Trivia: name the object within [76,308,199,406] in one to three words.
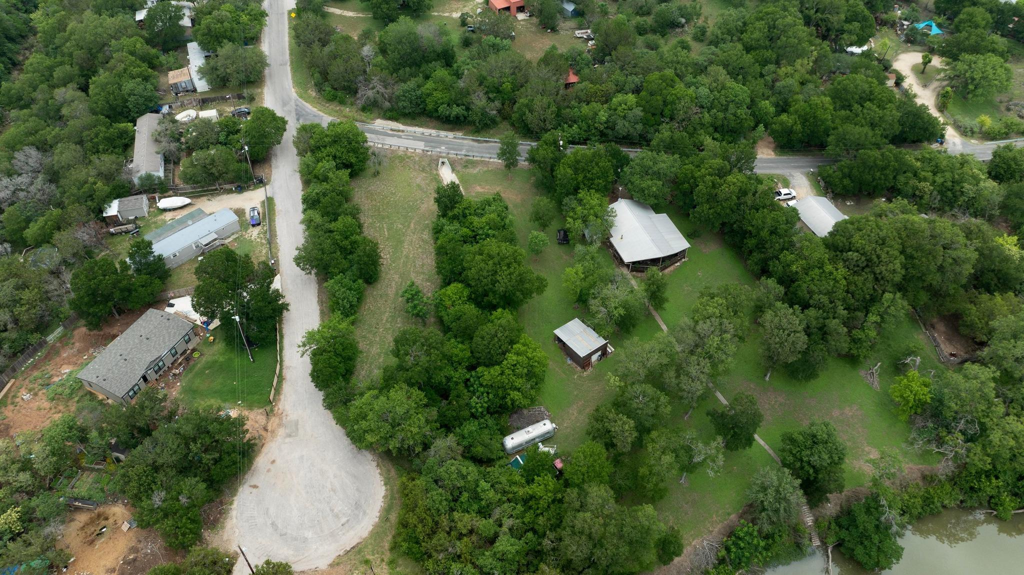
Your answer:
house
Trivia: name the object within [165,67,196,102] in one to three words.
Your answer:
shed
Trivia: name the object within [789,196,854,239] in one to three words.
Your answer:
building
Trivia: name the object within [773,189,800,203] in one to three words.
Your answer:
vehicle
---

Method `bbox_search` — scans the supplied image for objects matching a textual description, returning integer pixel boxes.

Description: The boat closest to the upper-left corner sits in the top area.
[171,108,198,121]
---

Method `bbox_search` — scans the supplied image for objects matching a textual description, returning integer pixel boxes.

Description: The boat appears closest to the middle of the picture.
[537,442,557,454]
